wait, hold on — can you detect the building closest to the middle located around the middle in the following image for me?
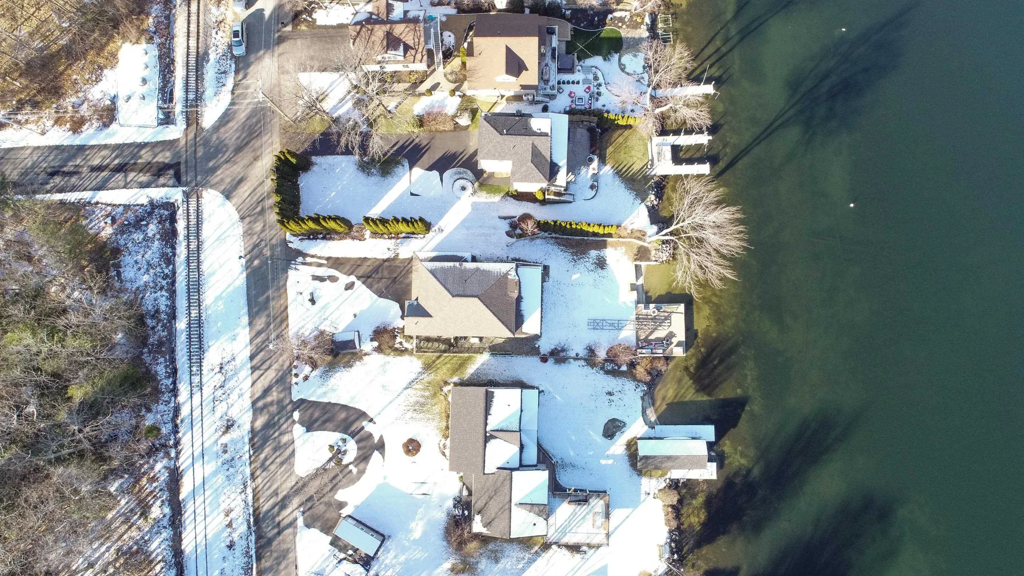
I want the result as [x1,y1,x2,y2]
[404,252,541,337]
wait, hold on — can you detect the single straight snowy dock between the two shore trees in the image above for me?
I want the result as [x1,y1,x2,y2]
[653,66,720,99]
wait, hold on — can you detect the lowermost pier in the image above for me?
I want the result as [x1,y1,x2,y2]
[670,462,717,480]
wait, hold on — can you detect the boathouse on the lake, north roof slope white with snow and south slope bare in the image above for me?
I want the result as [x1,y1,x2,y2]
[633,437,708,469]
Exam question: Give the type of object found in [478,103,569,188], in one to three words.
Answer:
house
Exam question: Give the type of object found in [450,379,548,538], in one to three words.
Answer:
house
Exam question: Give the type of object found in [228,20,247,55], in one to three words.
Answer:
car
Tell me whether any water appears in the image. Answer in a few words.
Yes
